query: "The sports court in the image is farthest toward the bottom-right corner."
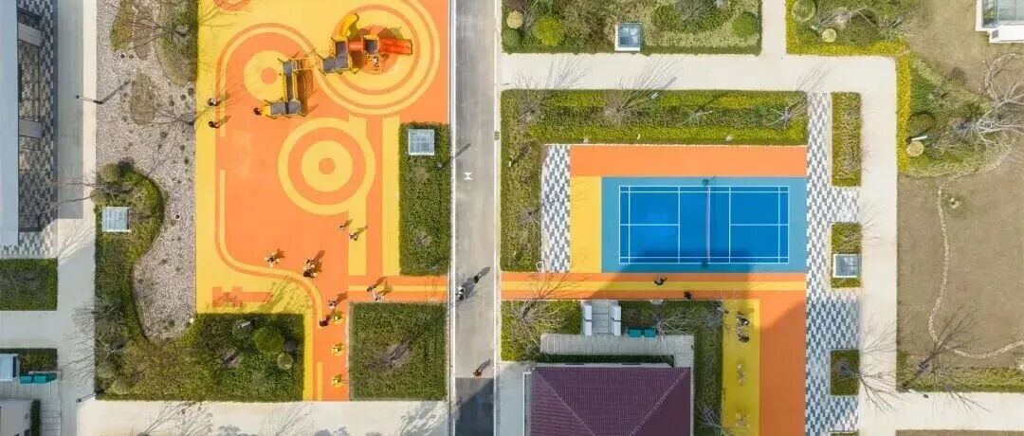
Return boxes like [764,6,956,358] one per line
[602,177,806,273]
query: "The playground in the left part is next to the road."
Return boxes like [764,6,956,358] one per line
[196,0,449,401]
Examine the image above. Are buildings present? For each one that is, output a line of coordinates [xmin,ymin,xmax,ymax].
[524,363,691,436]
[977,0,1024,42]
[0,401,34,436]
[0,0,40,245]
